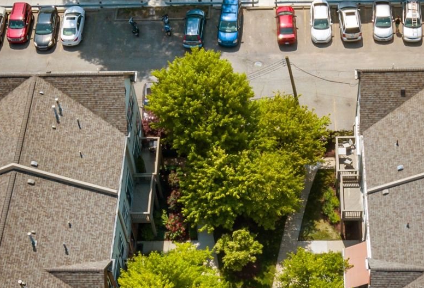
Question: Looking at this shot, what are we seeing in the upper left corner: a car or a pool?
car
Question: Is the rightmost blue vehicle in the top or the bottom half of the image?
top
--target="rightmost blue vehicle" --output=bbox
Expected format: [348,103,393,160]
[215,0,240,45]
